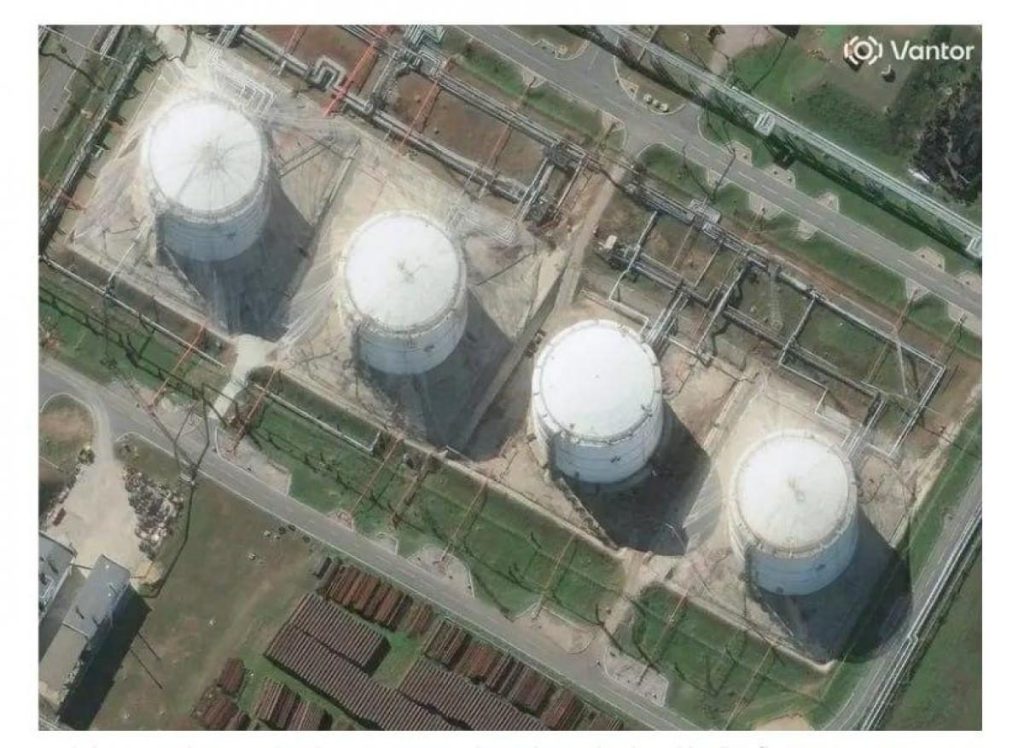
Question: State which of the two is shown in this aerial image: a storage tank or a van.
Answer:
storage tank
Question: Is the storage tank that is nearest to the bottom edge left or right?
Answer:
right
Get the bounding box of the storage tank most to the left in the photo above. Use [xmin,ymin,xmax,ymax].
[136,96,280,264]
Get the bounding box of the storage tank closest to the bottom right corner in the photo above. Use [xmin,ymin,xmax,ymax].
[728,429,871,602]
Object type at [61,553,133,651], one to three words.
building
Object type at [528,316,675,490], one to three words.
storage tank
